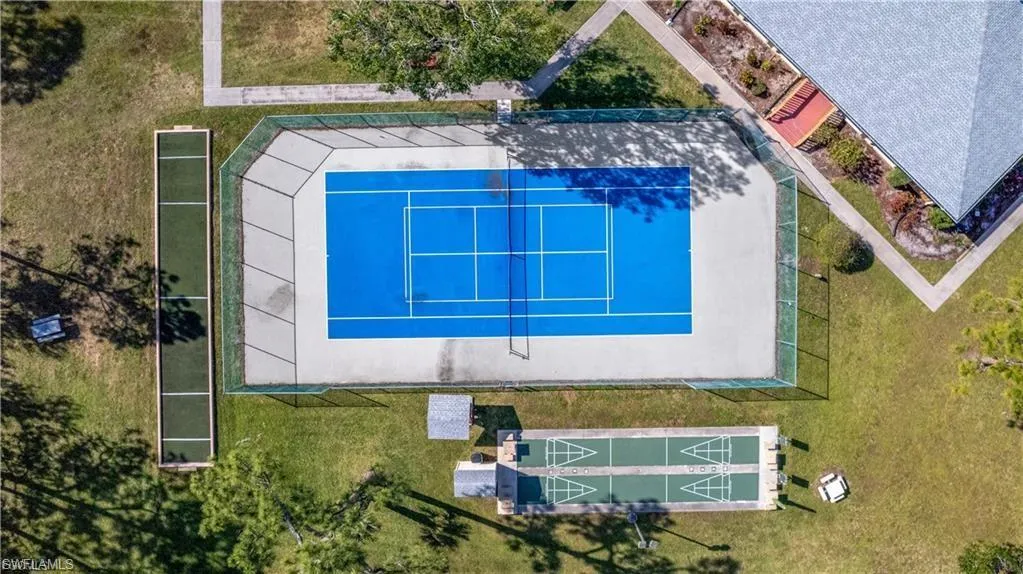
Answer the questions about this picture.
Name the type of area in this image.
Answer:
sports ground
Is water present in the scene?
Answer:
No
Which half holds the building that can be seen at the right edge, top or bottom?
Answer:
top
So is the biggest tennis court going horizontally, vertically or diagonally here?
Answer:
horizontally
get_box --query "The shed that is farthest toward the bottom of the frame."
[453,460,498,497]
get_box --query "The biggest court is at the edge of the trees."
[245,124,775,383]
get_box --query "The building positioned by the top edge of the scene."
[726,0,1023,224]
